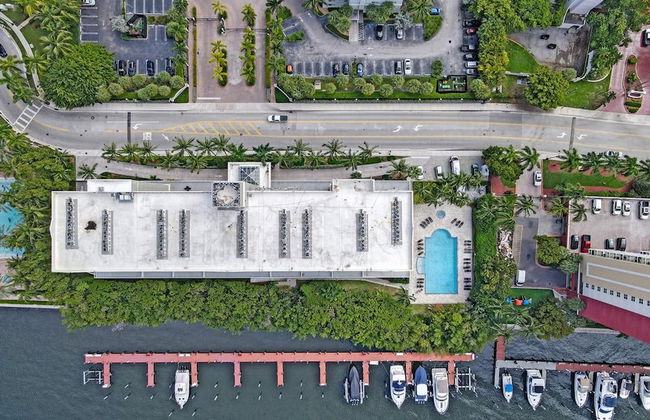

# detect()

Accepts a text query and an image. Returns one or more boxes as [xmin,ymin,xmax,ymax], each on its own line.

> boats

[529,369,545,412]
[432,364,449,415]
[639,374,650,414]
[175,365,190,409]
[415,366,427,406]
[595,372,620,420]
[619,374,632,399]
[390,362,406,408]
[502,370,514,402]
[573,371,590,408]
[348,365,361,407]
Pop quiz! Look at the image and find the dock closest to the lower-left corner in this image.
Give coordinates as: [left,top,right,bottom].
[84,350,477,390]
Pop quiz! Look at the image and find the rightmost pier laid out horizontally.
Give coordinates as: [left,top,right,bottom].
[492,334,650,393]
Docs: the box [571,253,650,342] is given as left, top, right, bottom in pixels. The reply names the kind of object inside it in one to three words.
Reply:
building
